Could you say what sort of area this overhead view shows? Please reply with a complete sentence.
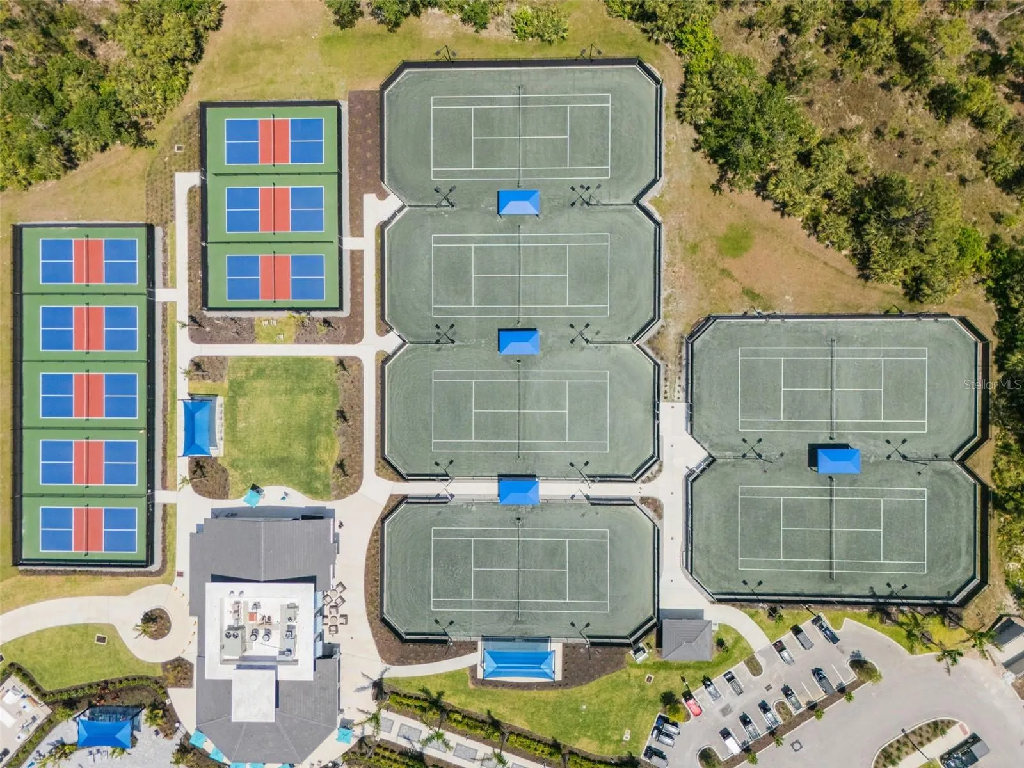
The area seen from above is a sports ground.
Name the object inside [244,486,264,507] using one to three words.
umbrella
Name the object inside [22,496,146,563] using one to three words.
sports court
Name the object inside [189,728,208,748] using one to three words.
umbrella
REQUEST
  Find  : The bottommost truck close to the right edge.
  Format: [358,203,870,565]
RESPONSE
[942,739,989,768]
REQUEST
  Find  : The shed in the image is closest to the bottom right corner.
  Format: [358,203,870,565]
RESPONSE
[994,643,1024,677]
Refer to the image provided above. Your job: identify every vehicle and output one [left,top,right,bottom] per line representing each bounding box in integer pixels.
[703,678,721,701]
[648,747,668,768]
[814,672,835,695]
[722,731,741,755]
[741,718,760,741]
[792,627,814,649]
[817,622,839,644]
[783,688,803,711]
[660,716,679,736]
[942,739,989,768]
[684,693,703,716]
[655,727,675,747]
[775,644,795,666]
[759,704,779,727]
[725,673,744,696]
